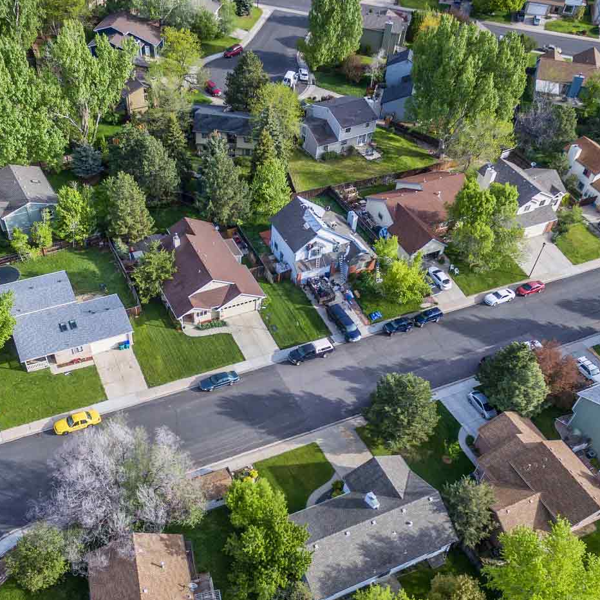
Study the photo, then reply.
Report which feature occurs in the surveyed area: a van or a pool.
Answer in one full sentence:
Of the two, only a van appears.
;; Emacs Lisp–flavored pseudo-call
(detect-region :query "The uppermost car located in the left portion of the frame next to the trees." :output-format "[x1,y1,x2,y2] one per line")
[225,42,241,55]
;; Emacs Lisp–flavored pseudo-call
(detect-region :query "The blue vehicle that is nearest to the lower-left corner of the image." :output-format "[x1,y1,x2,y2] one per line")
[197,369,242,394]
